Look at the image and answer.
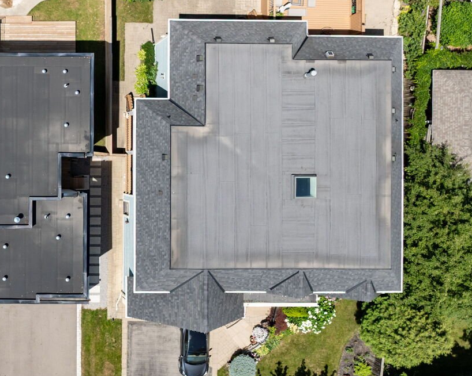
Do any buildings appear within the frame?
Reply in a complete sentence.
Yes, the frame does contain a building.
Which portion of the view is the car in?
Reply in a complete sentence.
The car sits in the bottom section of the image.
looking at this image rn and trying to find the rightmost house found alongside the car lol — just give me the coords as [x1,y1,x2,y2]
[122,17,405,332]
